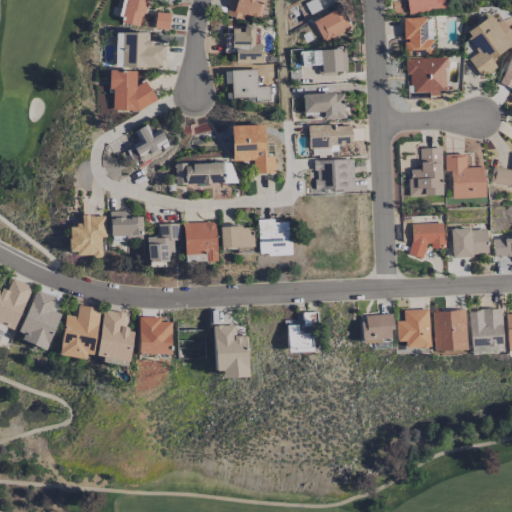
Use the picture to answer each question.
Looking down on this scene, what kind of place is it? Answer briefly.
residential area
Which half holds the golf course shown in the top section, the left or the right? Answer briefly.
left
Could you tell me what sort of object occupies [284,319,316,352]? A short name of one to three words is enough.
house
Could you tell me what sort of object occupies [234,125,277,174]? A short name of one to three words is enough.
house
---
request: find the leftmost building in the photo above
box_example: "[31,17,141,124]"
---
[0,280,36,338]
